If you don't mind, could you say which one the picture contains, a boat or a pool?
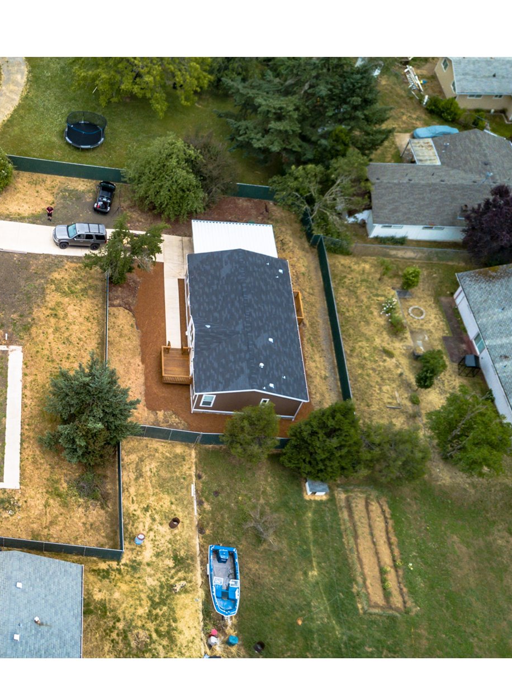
boat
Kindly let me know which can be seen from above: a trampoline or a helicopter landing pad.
trampoline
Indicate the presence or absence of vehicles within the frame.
Yes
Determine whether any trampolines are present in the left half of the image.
Yes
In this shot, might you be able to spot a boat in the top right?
No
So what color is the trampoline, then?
black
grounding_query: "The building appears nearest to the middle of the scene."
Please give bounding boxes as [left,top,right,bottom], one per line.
[183,248,311,422]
